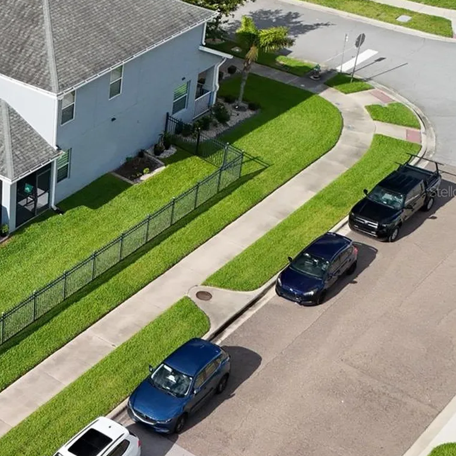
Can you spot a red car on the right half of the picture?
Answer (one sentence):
No, looking on the right half of the picture, there is no red car.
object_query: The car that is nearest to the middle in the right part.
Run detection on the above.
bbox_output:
[276,227,365,304]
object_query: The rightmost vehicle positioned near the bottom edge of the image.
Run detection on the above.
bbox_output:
[129,336,241,434]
